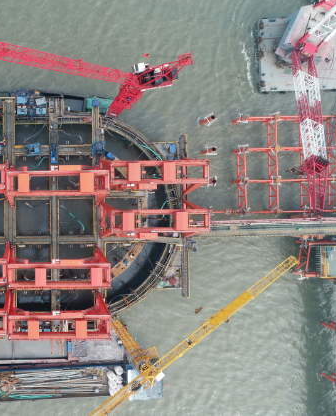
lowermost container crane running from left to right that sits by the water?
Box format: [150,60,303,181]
[7,293,112,342]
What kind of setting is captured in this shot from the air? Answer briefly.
port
